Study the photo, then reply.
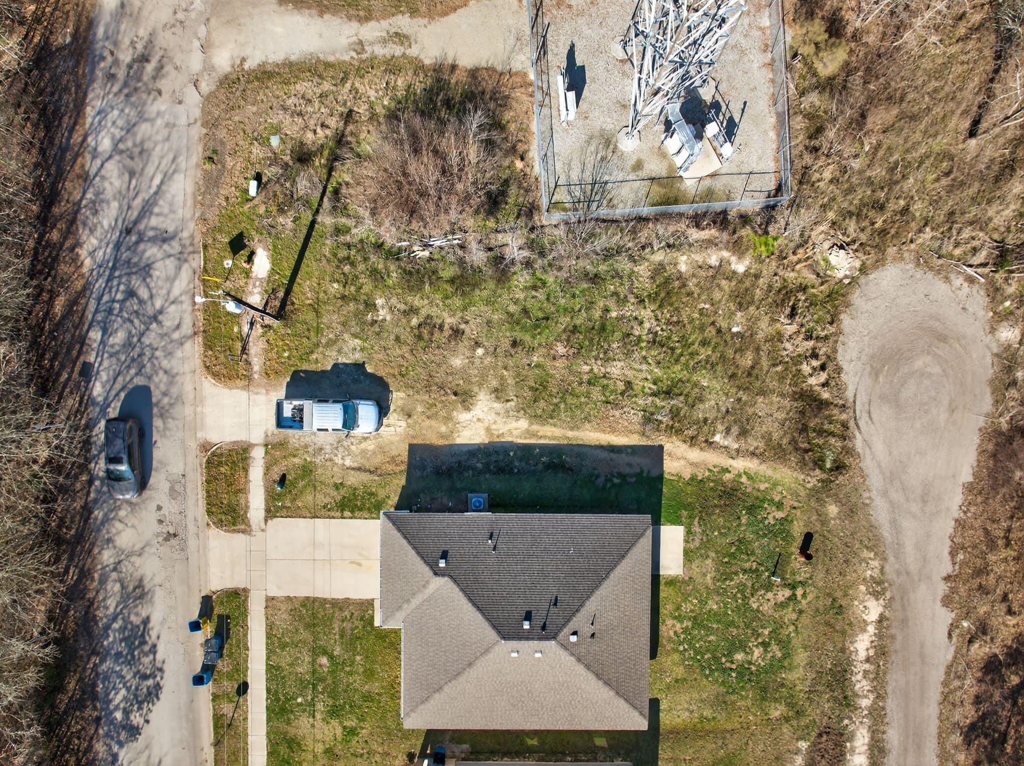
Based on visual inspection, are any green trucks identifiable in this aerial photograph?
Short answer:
No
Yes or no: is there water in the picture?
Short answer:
No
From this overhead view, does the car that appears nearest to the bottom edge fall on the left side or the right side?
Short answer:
left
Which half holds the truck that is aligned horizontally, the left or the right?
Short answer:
left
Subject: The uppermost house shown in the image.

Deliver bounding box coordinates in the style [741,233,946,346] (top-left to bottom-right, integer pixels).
[378,511,651,731]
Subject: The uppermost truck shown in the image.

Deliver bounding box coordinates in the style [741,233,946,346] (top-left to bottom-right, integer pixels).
[276,393,386,440]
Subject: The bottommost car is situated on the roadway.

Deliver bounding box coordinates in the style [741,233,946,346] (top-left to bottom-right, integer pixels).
[99,419,147,499]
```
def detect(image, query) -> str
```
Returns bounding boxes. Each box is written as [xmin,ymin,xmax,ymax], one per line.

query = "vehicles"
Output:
[99,419,147,499]
[276,393,386,440]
